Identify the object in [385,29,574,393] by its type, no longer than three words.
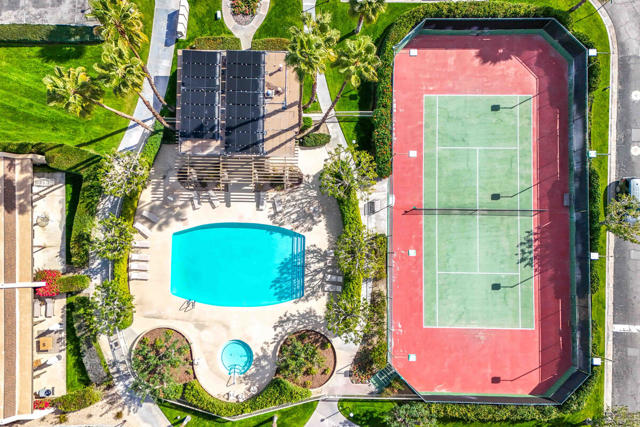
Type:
tennis court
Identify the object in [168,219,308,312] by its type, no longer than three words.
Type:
swimming pool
